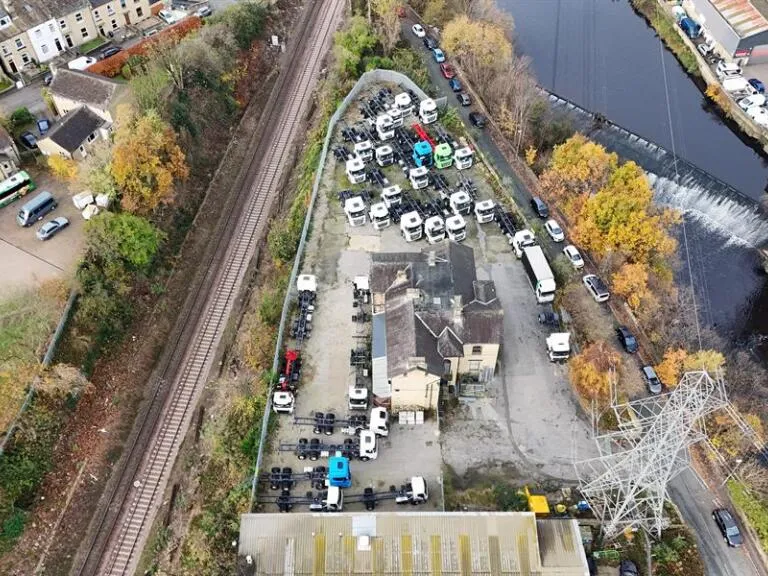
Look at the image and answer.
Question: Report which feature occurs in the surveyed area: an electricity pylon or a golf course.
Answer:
electricity pylon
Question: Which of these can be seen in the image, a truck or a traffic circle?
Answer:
truck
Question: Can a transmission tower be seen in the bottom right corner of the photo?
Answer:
Yes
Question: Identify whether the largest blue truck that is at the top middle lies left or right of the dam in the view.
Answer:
on the left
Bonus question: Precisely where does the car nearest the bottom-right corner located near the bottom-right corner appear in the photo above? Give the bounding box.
[711,508,744,548]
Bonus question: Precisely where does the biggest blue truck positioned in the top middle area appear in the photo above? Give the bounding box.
[395,127,433,166]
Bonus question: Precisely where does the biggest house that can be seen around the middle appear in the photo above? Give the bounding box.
[370,234,504,405]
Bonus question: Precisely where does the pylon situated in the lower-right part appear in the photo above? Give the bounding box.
[581,377,739,536]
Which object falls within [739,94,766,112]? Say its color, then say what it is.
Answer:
white vehicle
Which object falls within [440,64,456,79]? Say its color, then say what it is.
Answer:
red car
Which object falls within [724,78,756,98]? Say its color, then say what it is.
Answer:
white vehicle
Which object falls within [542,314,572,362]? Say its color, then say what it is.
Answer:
white truck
